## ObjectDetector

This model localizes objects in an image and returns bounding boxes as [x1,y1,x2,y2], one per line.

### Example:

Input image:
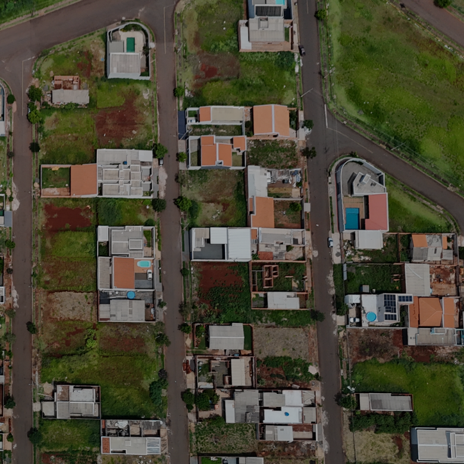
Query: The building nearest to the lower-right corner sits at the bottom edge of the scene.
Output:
[410,427,464,463]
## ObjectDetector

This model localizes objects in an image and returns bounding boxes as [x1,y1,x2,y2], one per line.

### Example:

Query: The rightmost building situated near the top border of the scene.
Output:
[236,0,293,56]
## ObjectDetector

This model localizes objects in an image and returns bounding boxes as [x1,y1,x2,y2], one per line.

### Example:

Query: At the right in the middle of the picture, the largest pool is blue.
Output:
[346,207,360,230]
